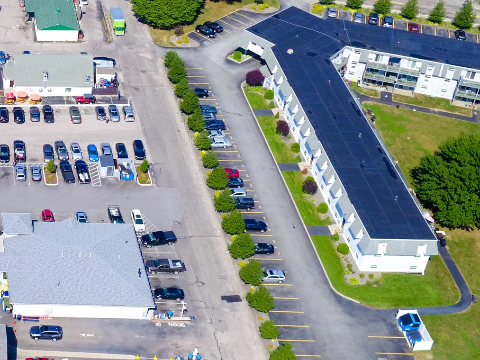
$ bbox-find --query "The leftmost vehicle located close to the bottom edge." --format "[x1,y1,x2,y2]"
[30,325,62,343]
